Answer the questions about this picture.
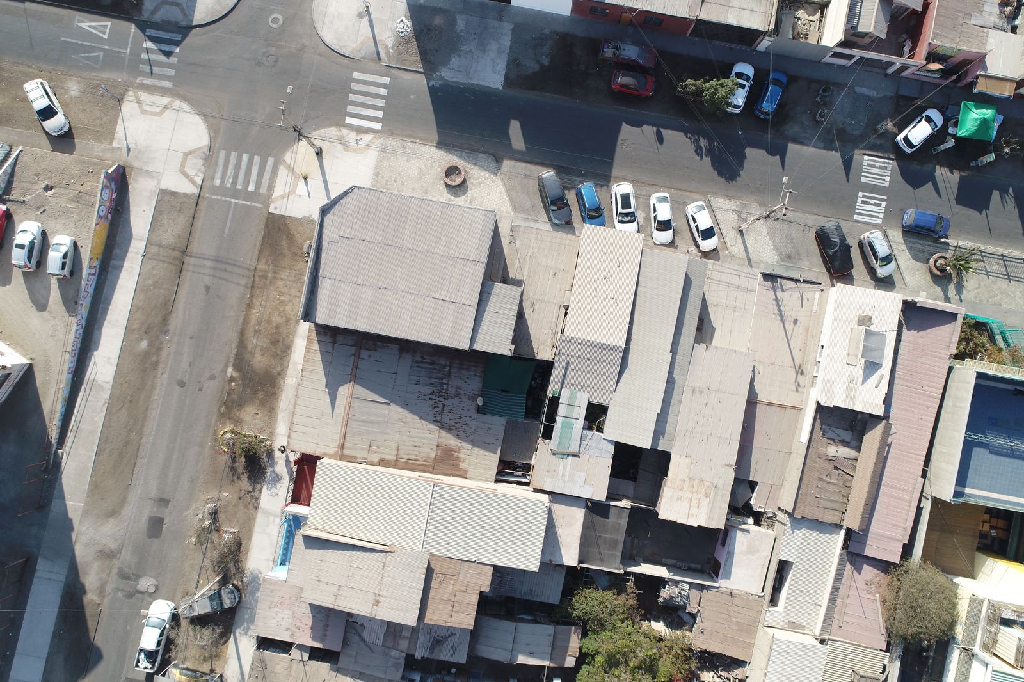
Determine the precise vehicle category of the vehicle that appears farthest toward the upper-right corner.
automobile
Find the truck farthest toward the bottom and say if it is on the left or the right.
left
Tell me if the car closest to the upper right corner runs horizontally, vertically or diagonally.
diagonally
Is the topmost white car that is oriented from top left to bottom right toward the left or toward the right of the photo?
left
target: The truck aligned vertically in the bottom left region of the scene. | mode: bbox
[135,600,176,673]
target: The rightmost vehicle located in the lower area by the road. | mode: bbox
[181,582,241,617]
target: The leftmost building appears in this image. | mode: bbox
[0,341,32,403]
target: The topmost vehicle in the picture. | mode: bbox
[599,39,658,71]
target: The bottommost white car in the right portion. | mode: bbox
[857,229,894,279]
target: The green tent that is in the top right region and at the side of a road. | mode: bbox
[941,101,998,151]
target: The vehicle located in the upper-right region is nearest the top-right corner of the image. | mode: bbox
[892,108,943,157]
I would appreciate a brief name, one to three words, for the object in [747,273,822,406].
house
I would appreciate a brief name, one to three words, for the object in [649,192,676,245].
car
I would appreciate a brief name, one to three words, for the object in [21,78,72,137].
car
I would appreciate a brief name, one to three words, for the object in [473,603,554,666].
house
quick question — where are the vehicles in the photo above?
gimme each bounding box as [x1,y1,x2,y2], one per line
[751,69,786,122]
[599,39,658,71]
[814,221,852,278]
[899,209,950,237]
[574,181,606,227]
[44,235,80,280]
[725,61,757,117]
[181,582,241,617]
[684,199,718,253]
[857,229,894,279]
[135,600,176,673]
[9,221,48,273]
[536,168,571,226]
[21,78,72,137]
[649,192,676,245]
[608,70,658,99]
[892,108,943,157]
[610,182,639,233]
